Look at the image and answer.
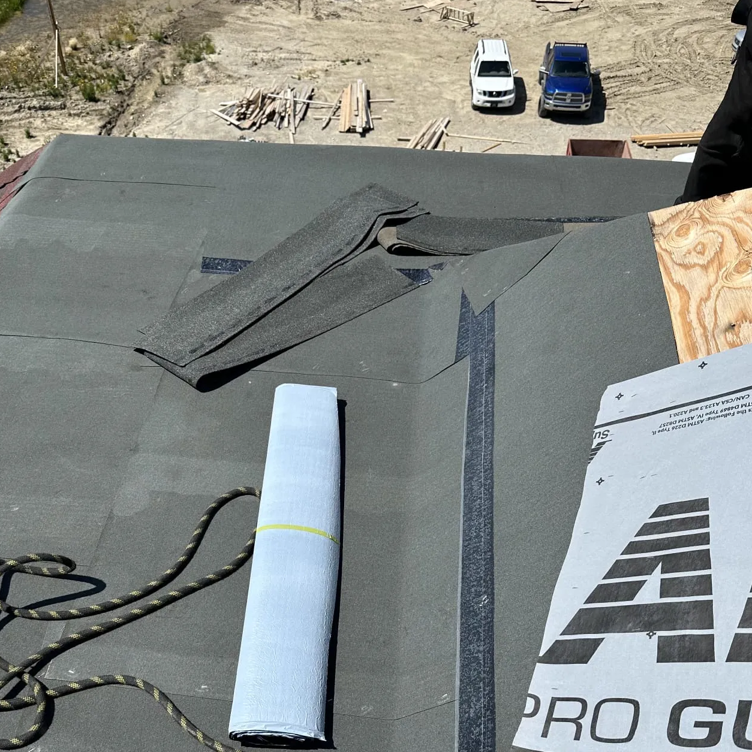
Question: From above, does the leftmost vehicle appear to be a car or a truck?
car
